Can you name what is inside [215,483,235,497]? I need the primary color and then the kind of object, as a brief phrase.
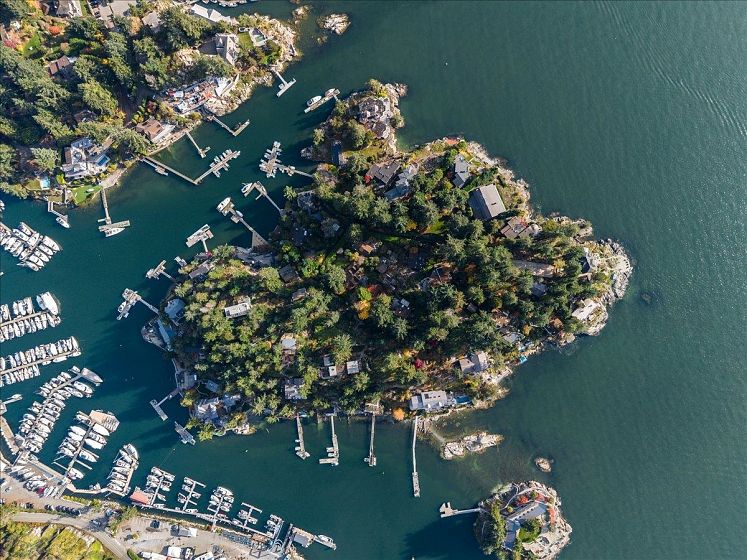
white boat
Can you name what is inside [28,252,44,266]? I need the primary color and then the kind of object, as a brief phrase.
white boat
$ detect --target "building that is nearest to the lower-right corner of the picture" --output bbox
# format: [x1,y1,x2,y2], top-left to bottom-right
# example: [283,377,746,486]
[498,497,554,551]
